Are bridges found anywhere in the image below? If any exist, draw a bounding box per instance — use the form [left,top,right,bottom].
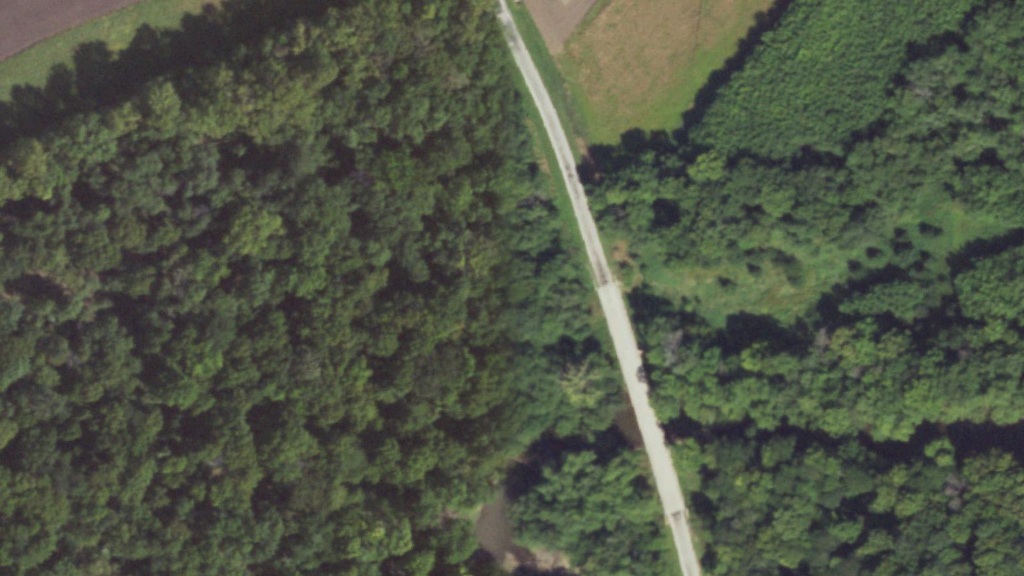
[596,279,688,523]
